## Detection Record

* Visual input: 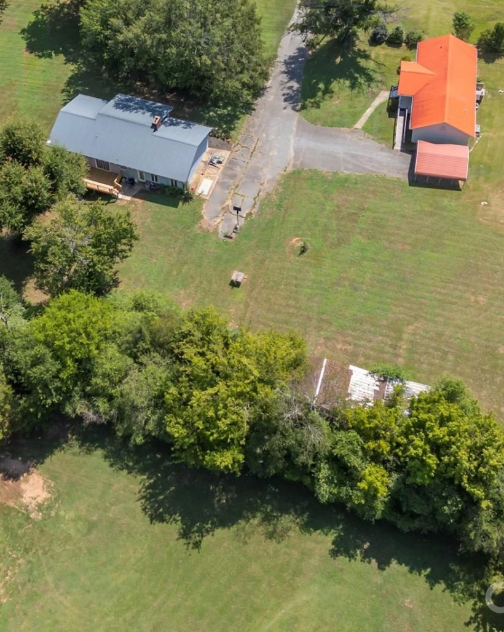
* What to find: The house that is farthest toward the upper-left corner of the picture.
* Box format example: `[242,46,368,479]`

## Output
[47,95,213,194]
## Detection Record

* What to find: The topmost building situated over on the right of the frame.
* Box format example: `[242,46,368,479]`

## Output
[394,35,477,151]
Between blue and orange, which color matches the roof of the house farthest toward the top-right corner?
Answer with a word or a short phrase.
orange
